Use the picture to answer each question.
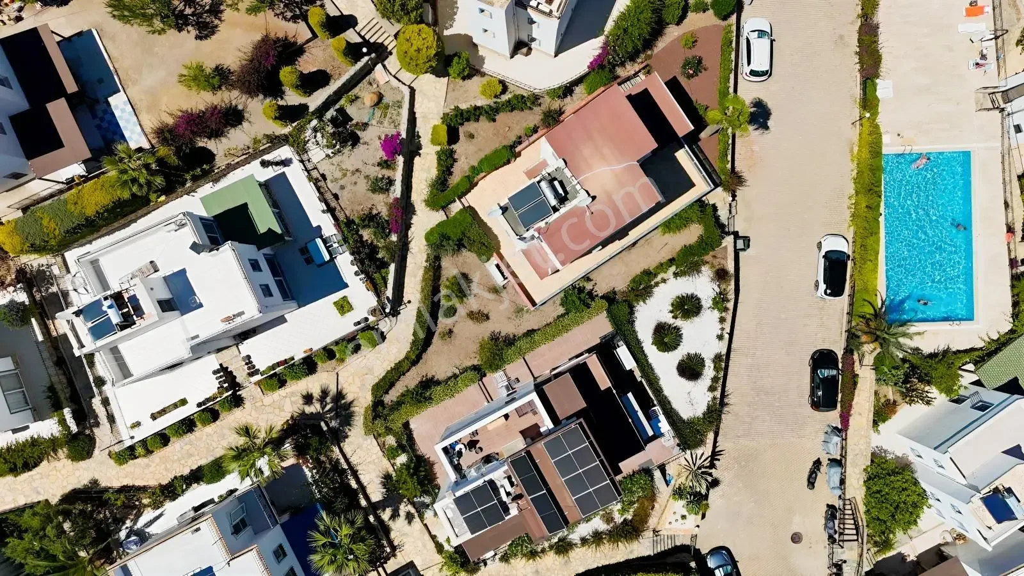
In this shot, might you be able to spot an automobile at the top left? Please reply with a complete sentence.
No, looking at the top left, there is no automobile.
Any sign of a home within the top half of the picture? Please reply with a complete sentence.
Yes, the scene does show a home within the top half of the picture.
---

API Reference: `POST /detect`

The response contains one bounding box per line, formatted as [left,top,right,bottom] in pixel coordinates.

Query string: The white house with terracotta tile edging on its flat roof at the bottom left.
[84,473,315,576]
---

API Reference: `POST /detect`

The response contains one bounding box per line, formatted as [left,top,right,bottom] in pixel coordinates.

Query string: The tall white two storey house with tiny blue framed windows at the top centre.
[466,0,583,57]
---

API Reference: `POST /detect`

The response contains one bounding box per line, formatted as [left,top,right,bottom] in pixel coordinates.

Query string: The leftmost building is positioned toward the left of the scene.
[0,369,40,439]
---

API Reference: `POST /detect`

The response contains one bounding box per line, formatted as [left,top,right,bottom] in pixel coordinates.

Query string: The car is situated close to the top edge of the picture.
[739,19,775,83]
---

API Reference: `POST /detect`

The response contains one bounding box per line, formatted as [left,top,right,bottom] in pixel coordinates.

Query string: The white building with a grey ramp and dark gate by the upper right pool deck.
[966,75,1024,213]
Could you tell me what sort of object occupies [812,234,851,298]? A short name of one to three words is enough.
car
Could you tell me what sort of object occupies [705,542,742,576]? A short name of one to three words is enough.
car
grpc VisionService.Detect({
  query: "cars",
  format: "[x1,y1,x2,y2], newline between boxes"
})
[705,542,742,576]
[739,19,775,83]
[805,349,842,410]
[812,234,851,298]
